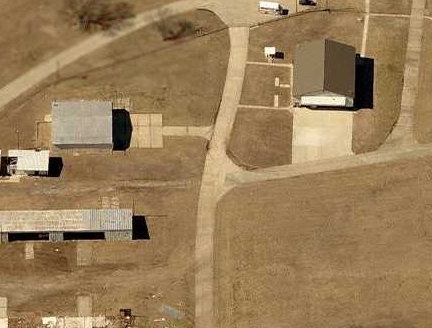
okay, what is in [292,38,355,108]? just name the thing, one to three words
hangar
